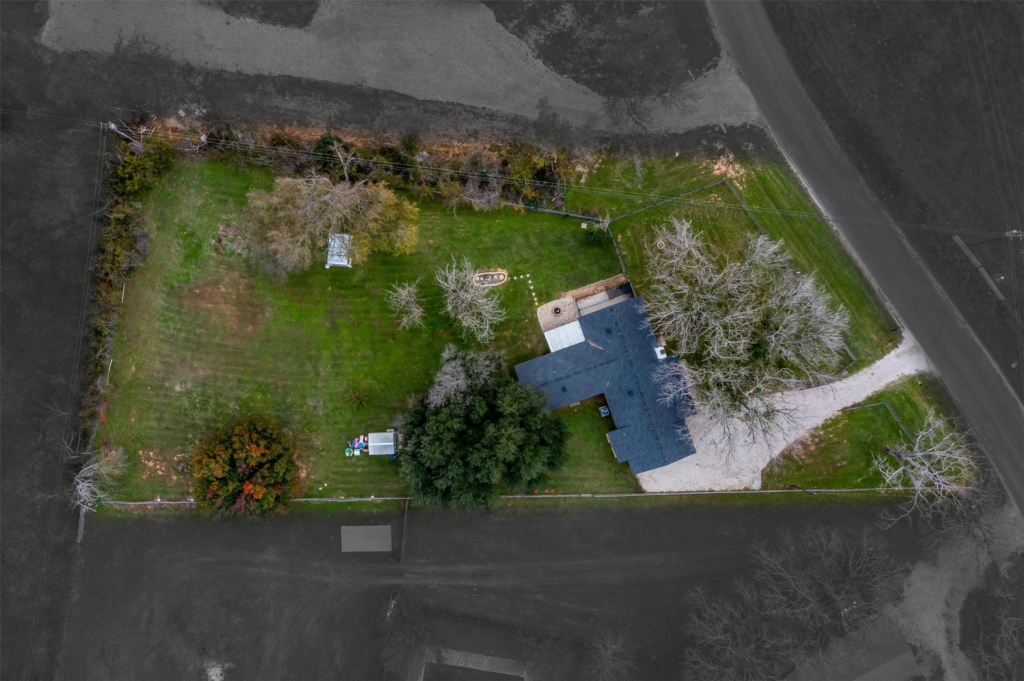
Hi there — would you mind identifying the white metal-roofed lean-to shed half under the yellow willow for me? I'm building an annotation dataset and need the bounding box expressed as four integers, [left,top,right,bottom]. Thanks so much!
[328,235,358,274]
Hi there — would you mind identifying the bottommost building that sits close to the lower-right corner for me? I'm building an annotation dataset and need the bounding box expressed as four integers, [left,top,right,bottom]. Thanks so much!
[792,622,920,681]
